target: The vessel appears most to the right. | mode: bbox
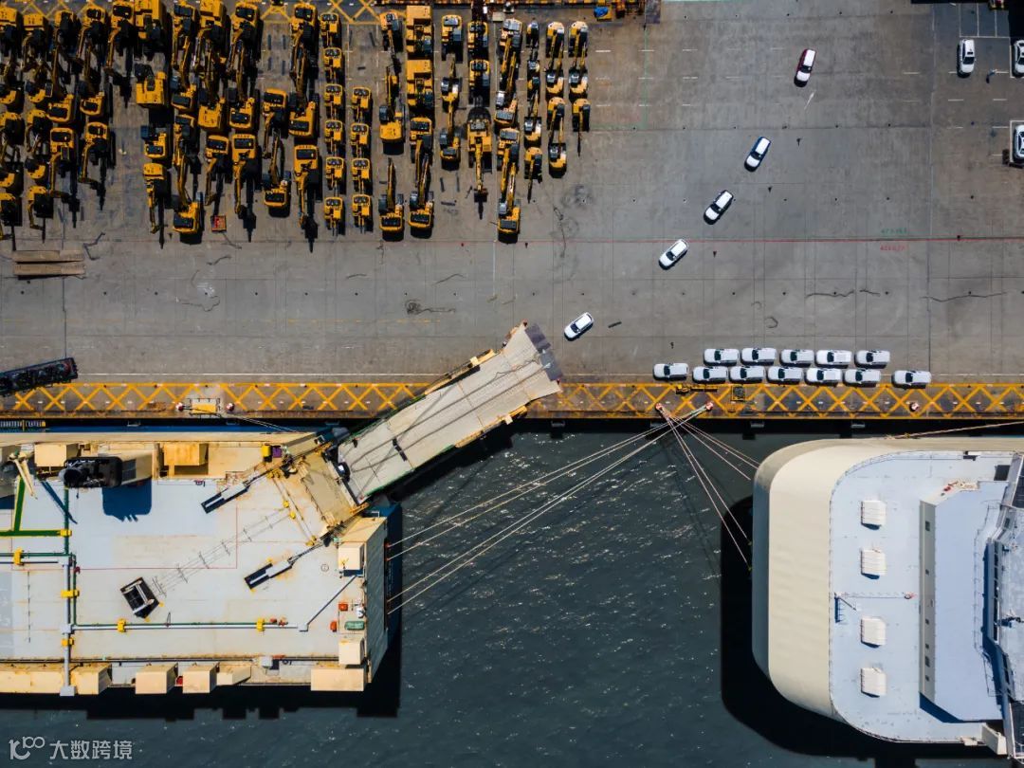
[752,433,1024,756]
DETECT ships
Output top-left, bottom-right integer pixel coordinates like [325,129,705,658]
[752,433,1024,756]
[0,321,574,695]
